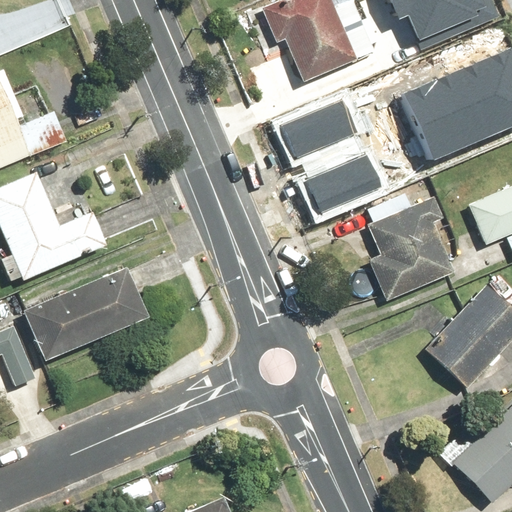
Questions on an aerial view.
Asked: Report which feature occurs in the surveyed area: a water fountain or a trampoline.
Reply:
trampoline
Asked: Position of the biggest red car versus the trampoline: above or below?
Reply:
above it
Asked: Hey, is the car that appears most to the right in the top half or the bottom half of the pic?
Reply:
top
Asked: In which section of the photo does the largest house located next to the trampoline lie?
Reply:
right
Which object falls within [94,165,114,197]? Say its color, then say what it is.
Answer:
white car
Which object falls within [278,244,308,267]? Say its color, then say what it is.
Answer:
white vehicle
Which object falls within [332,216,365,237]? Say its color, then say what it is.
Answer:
red car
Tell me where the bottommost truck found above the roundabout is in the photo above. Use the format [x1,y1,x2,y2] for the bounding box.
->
[278,266,300,300]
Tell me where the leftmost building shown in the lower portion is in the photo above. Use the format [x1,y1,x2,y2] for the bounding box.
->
[0,326,35,388]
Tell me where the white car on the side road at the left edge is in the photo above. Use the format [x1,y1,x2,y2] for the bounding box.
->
[0,449,28,470]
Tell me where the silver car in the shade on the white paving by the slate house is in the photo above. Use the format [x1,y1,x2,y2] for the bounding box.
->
[391,44,420,64]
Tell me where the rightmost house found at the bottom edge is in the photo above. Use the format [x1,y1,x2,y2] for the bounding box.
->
[454,407,512,502]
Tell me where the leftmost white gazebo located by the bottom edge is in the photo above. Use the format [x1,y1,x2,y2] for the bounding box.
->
[126,479,152,498]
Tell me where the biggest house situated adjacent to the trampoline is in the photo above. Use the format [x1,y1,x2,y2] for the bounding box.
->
[368,197,454,302]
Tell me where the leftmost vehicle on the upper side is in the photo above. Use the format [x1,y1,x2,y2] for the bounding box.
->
[29,160,58,178]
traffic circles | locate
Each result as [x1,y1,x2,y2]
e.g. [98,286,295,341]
[259,348,296,384]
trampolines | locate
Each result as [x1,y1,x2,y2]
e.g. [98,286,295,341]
[349,272,373,296]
